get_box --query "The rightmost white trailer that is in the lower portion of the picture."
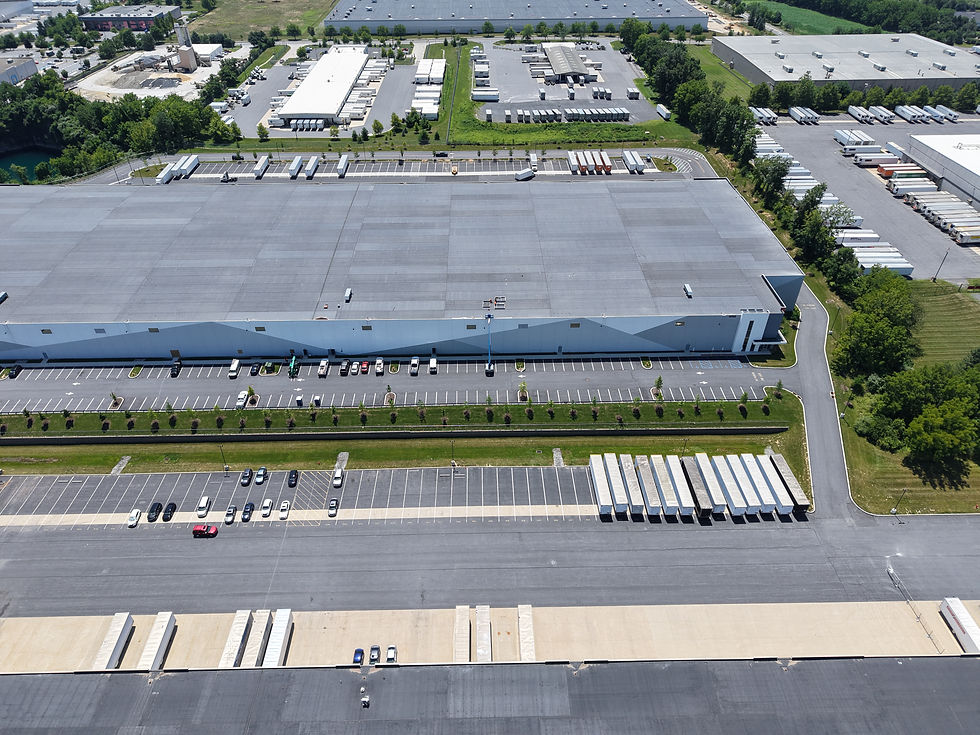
[940,597,980,653]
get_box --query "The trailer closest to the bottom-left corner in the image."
[90,612,134,670]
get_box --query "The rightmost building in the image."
[902,133,980,204]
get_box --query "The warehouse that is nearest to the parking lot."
[0,180,805,363]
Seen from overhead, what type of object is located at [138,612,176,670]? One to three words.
trailer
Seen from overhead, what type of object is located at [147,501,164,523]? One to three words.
car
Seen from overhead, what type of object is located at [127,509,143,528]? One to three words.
car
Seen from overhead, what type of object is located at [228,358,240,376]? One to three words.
vehicle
